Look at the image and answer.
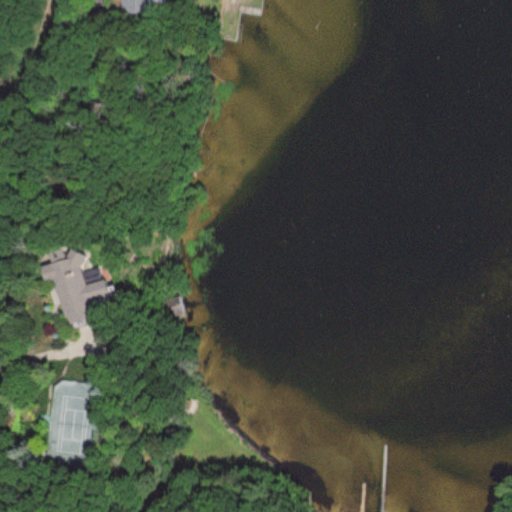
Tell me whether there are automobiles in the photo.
No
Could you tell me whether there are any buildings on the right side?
No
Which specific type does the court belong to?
tennis court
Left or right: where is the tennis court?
left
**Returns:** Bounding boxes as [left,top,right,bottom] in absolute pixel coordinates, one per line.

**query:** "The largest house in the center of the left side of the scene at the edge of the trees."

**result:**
[41,249,112,327]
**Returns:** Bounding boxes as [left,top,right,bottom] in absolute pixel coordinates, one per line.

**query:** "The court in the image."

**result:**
[47,380,100,460]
